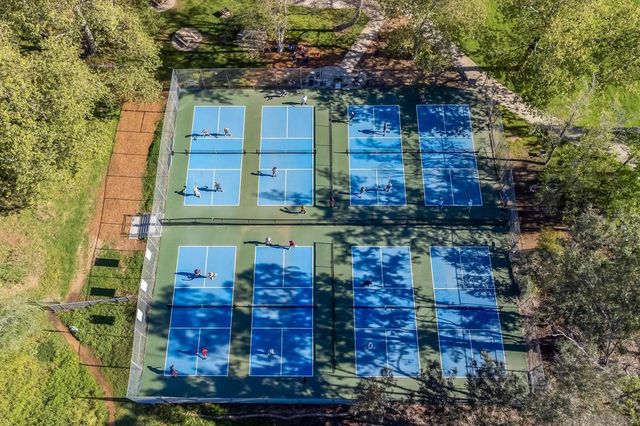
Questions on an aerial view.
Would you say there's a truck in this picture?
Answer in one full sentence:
No, the picture doesn't show any truck.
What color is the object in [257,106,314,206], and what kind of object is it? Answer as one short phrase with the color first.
blue sports court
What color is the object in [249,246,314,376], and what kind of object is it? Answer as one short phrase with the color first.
blue sports court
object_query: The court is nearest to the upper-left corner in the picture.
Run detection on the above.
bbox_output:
[183,106,246,206]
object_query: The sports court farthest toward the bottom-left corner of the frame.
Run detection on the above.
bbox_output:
[164,246,237,376]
